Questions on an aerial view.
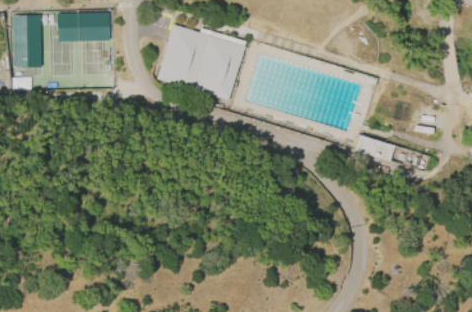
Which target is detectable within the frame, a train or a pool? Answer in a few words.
pool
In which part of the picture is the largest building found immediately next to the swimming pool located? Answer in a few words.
top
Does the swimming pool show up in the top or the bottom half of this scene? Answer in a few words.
top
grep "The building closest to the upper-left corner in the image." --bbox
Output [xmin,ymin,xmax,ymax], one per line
[13,14,43,67]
